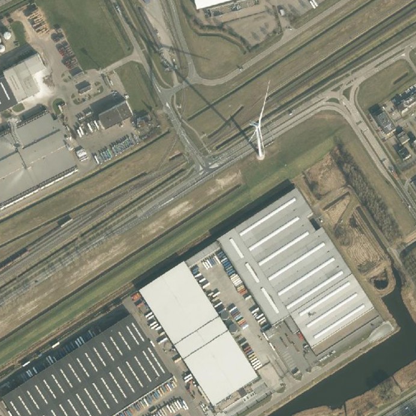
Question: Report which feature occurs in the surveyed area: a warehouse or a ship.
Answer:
warehouse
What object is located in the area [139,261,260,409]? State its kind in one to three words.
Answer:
warehouse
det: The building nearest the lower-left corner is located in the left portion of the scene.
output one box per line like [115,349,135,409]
[1,314,173,416]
